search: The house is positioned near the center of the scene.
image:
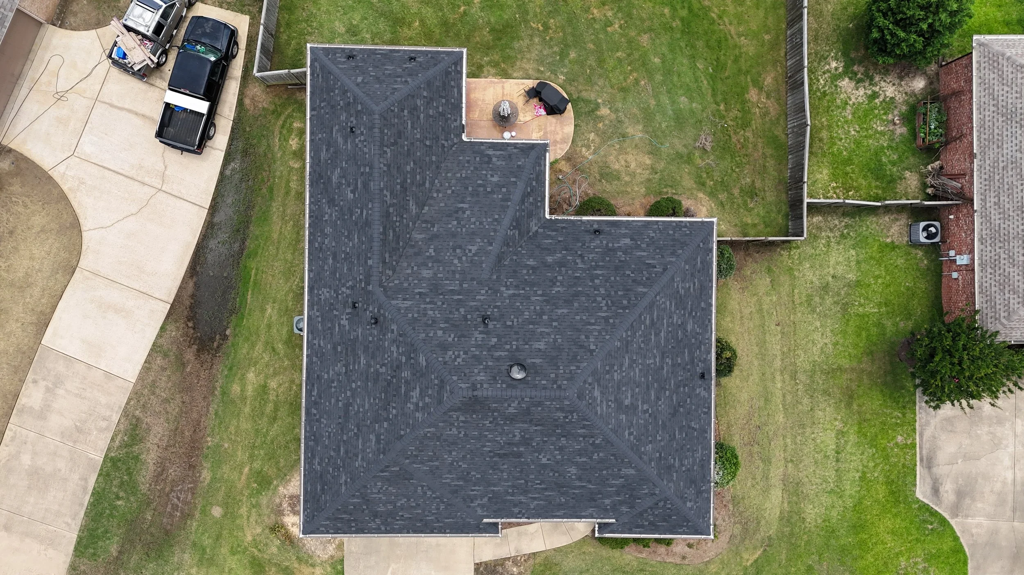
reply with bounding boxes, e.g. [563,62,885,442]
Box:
[300,43,718,538]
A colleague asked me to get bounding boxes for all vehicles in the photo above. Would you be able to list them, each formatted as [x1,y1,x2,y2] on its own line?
[106,0,200,83]
[152,15,242,157]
